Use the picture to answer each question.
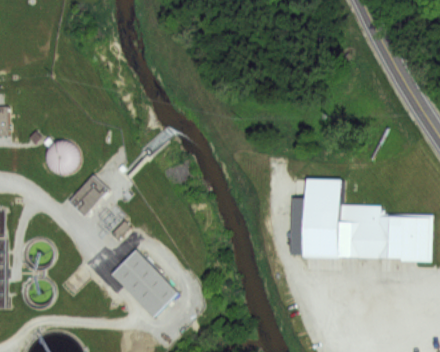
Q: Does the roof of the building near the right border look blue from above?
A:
No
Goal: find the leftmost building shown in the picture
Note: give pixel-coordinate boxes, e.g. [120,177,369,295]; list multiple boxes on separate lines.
[0,106,15,138]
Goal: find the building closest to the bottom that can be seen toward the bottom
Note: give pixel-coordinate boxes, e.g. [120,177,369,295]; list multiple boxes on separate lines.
[112,250,178,318]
